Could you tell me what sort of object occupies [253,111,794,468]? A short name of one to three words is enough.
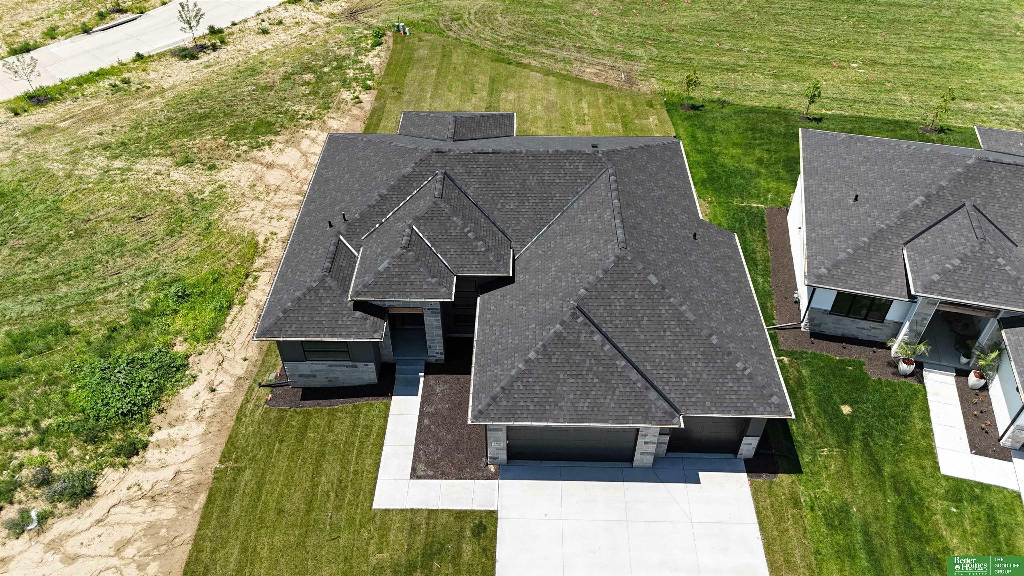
house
